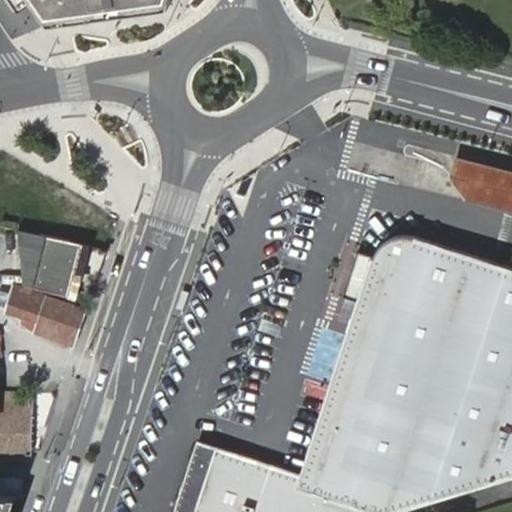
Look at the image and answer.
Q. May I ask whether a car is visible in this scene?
Yes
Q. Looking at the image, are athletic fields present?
No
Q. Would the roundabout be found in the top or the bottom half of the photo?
top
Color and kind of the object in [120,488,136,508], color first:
white car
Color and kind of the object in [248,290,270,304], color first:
white car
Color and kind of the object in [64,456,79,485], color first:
white vehicle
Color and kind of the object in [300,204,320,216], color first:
white vehicle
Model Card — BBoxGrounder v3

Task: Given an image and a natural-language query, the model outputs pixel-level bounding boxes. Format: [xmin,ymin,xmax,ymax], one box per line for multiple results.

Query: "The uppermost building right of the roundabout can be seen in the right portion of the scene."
[450,158,512,214]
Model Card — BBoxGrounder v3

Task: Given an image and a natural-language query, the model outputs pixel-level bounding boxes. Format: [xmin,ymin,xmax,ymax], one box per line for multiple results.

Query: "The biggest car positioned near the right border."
[486,109,511,123]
